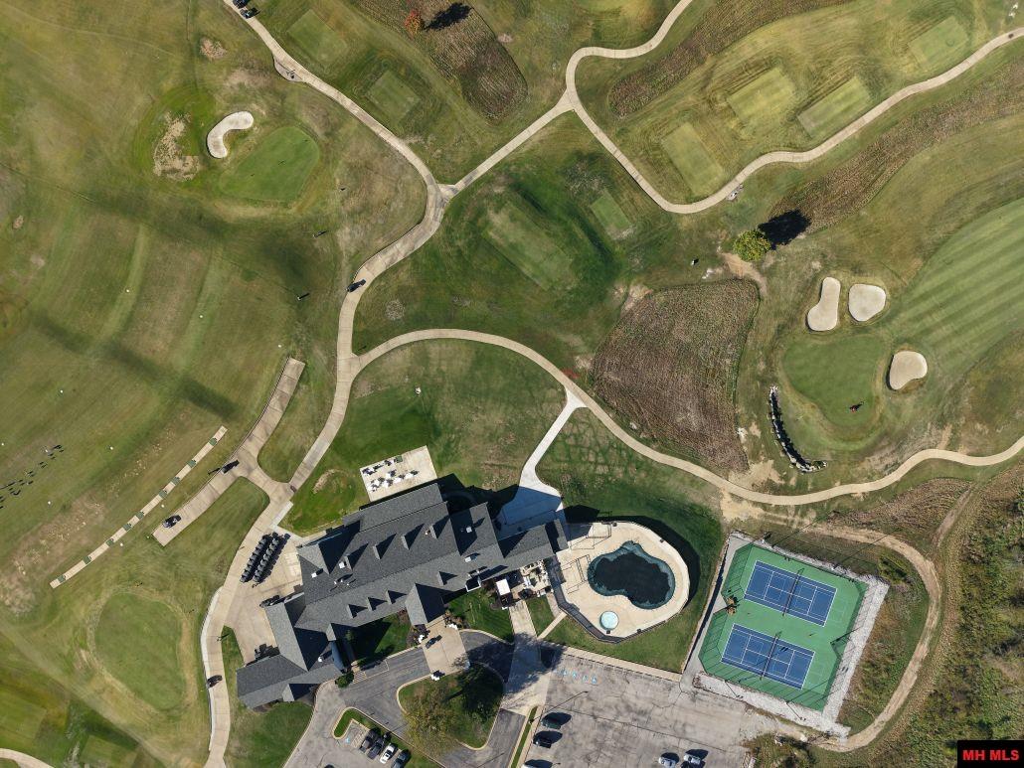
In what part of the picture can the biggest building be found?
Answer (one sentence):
The biggest building appears toward the bottom of the photo.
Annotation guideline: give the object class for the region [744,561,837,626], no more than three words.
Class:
tennis court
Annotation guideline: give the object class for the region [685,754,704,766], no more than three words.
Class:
vehicle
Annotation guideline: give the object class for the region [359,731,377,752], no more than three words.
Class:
vehicle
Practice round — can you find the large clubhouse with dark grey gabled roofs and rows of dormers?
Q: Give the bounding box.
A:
[238,483,568,709]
